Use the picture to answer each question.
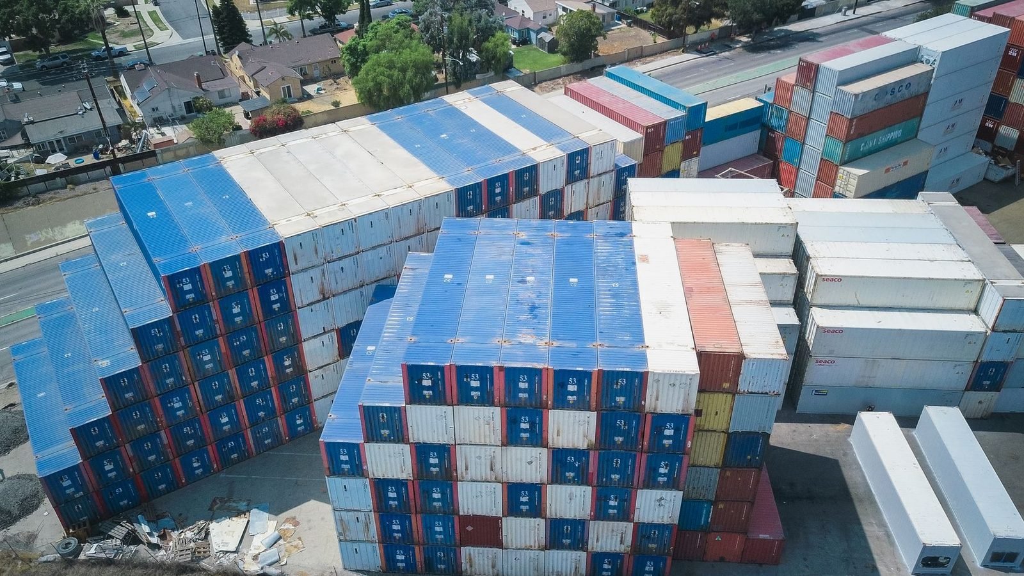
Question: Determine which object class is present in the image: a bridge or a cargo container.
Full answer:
Visible in the photo is a cargo container.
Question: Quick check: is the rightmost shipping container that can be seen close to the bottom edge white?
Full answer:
Yes, the rightmost shipping container that can be seen close to the bottom edge is indeed white.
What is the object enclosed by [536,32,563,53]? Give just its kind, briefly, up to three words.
shed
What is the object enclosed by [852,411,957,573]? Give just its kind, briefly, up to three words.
shipping container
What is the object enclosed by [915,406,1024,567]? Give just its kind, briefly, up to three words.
shipping container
